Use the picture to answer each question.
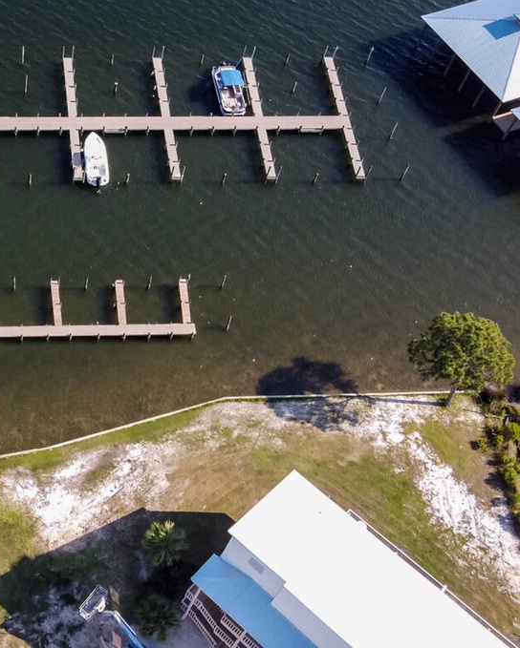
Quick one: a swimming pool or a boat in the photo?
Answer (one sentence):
I can see a boat in this picture.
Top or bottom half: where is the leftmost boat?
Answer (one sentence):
You can find the leftmost boat in the top half.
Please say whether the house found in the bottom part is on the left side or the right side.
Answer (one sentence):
The house found in the bottom part sits on the right side.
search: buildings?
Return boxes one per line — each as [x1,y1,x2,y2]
[178,470,520,648]
[418,0,520,143]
